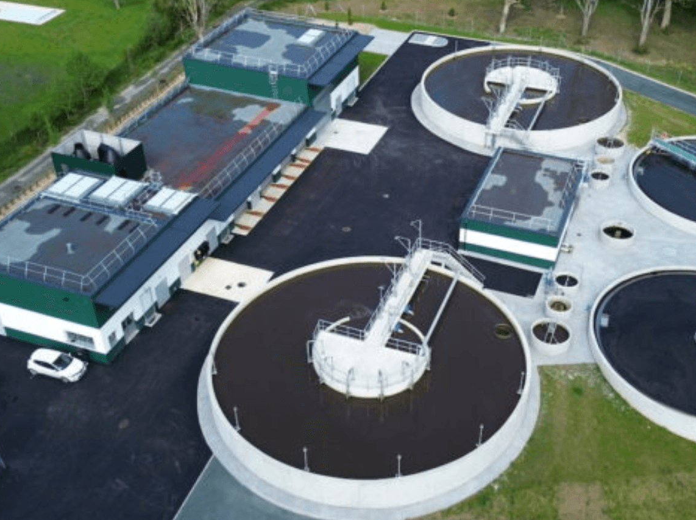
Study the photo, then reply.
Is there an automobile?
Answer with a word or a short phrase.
Yes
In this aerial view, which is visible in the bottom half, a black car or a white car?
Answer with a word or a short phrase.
white car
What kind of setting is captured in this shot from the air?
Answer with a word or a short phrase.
industrial area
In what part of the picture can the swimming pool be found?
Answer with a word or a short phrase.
top left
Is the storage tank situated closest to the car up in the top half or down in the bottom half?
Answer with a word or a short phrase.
bottom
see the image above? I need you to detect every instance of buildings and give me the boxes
[456,146,593,271]
[0,9,377,364]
